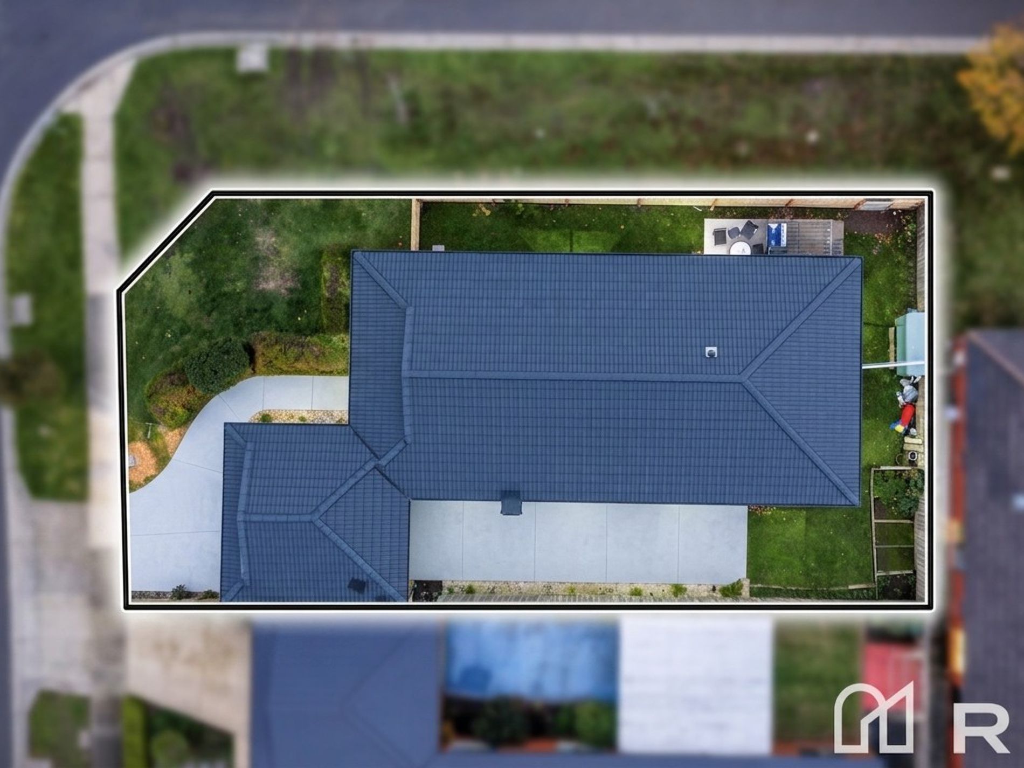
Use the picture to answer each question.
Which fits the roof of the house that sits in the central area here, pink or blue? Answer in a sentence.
In this view, the roof of the house that sits in the central area is blue.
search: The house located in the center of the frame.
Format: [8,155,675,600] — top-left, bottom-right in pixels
[219,249,864,607]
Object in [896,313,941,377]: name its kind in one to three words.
shed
